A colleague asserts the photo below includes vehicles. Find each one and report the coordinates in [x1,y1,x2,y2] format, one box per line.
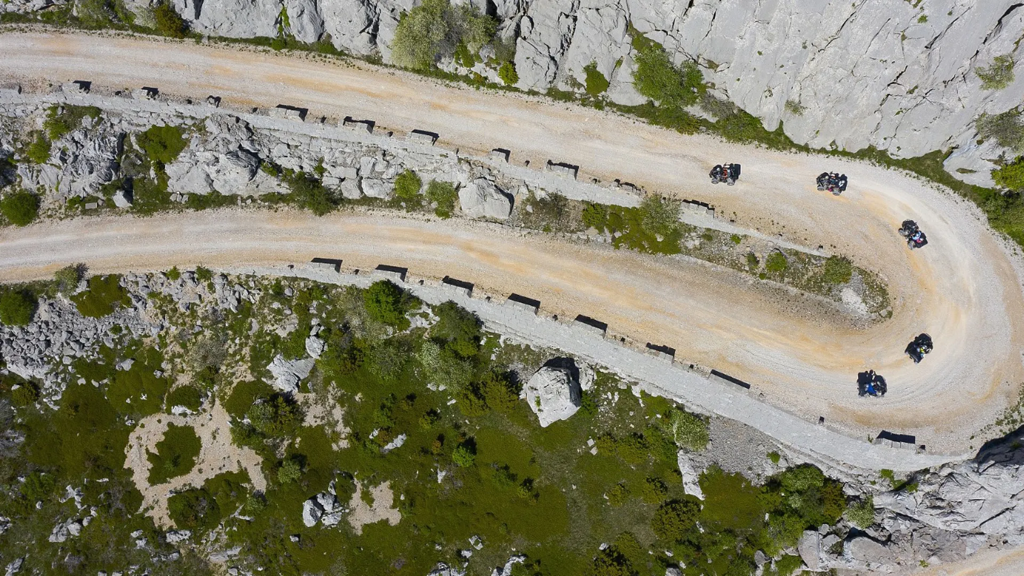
[906,335,936,365]
[900,224,929,252]
[857,379,890,400]
[712,167,740,186]
[819,175,849,197]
